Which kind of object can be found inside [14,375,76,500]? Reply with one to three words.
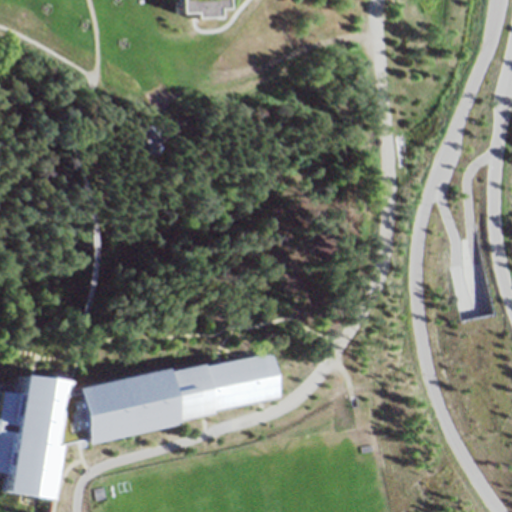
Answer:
building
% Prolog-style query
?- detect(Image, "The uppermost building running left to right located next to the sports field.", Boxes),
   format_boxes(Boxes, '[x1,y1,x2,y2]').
[84,354,281,445]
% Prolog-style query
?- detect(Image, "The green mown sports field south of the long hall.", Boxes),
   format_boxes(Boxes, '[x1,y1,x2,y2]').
[85,437,383,512]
